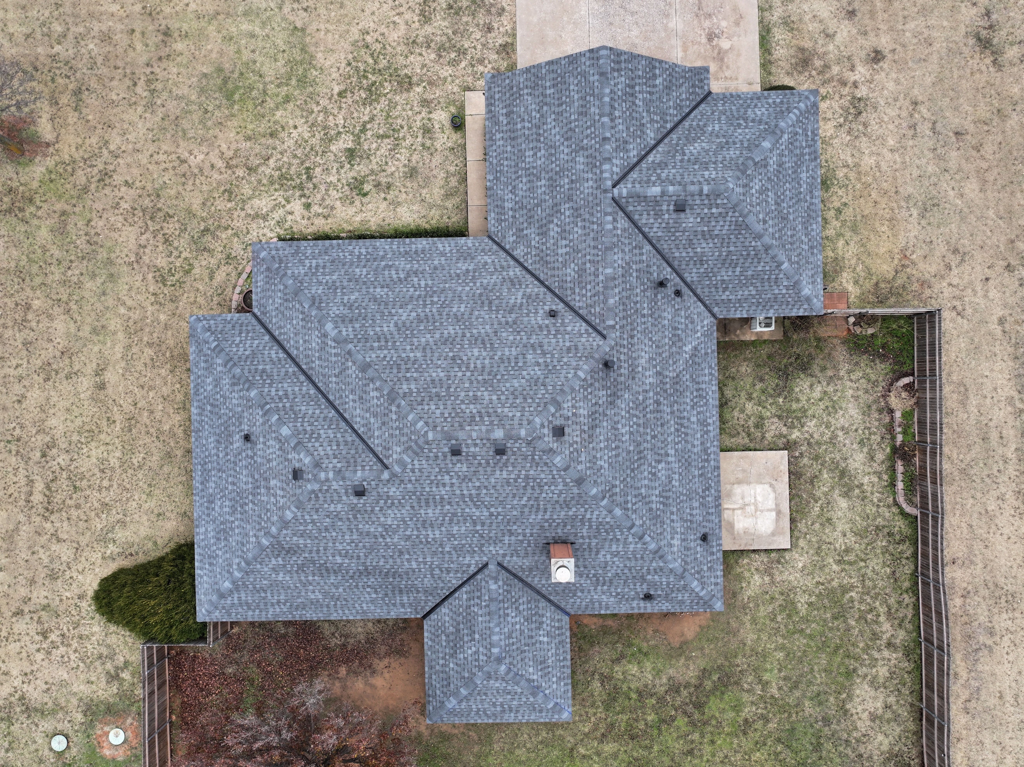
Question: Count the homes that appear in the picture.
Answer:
1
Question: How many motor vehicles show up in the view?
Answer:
0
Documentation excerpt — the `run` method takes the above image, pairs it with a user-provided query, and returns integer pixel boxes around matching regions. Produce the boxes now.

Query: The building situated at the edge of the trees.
[189,44,823,723]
